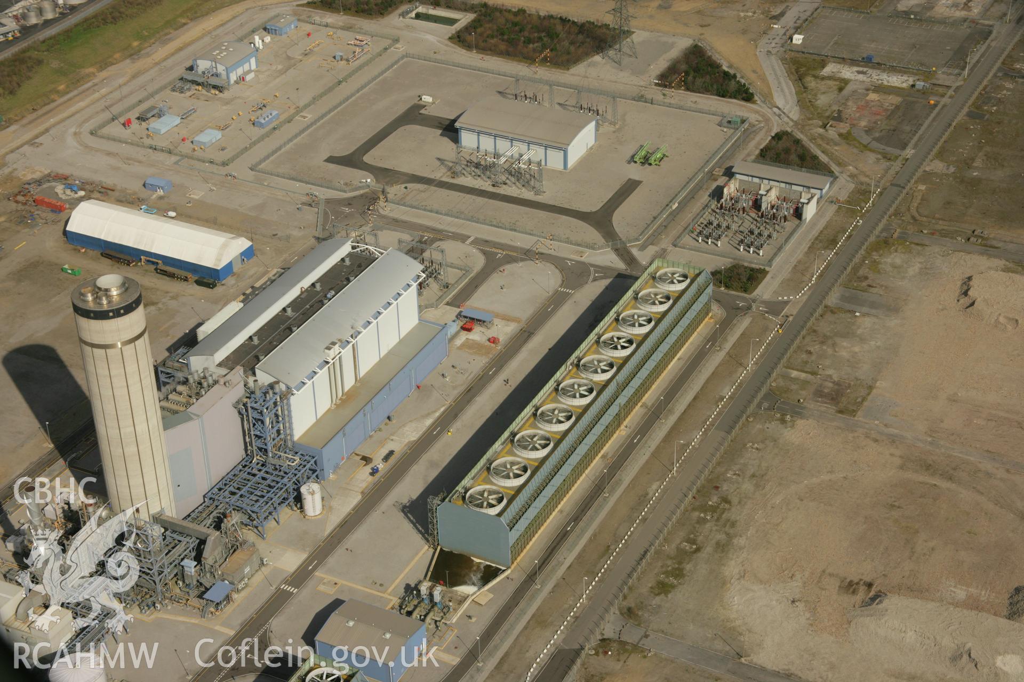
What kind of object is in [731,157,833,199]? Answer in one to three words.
building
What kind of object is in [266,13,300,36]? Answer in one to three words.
building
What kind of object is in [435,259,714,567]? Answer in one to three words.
cooling tower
